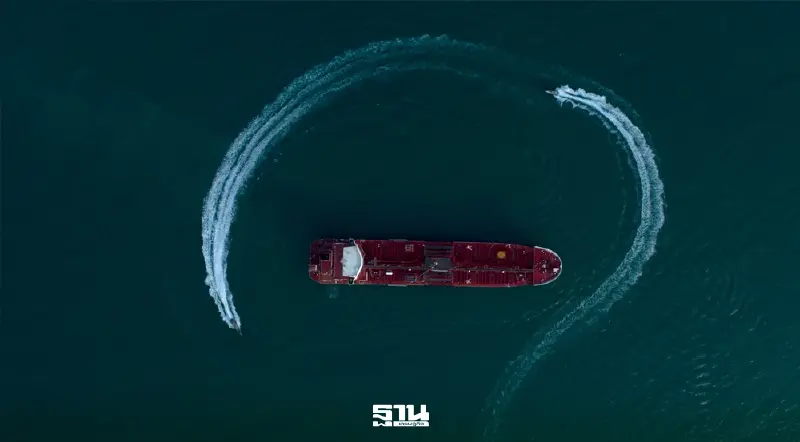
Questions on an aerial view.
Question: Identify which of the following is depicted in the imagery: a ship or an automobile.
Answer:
ship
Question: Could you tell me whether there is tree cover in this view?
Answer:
No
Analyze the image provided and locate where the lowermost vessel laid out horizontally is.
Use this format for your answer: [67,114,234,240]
[308,238,564,287]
